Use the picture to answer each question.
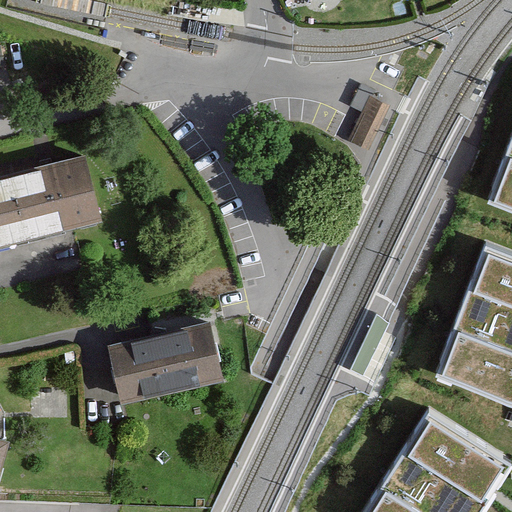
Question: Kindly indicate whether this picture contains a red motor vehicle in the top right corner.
No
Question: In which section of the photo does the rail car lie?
top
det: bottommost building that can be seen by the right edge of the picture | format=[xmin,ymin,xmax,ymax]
[360,404,512,512]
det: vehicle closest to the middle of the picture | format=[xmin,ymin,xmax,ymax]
[238,252,262,266]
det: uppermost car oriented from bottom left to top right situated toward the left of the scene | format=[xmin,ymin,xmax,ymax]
[172,120,195,140]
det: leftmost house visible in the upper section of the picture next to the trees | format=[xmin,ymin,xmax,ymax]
[0,154,102,248]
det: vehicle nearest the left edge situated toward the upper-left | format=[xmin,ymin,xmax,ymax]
[10,43,23,70]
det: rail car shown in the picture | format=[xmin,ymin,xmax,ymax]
[185,18,226,38]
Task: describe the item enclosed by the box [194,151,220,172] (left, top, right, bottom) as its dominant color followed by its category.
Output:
white vehicle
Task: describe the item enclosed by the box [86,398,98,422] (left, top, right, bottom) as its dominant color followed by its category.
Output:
white vehicle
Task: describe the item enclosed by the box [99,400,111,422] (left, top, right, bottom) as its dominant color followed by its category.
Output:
gray vehicle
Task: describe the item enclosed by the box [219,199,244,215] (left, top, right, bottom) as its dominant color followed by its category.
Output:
white car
